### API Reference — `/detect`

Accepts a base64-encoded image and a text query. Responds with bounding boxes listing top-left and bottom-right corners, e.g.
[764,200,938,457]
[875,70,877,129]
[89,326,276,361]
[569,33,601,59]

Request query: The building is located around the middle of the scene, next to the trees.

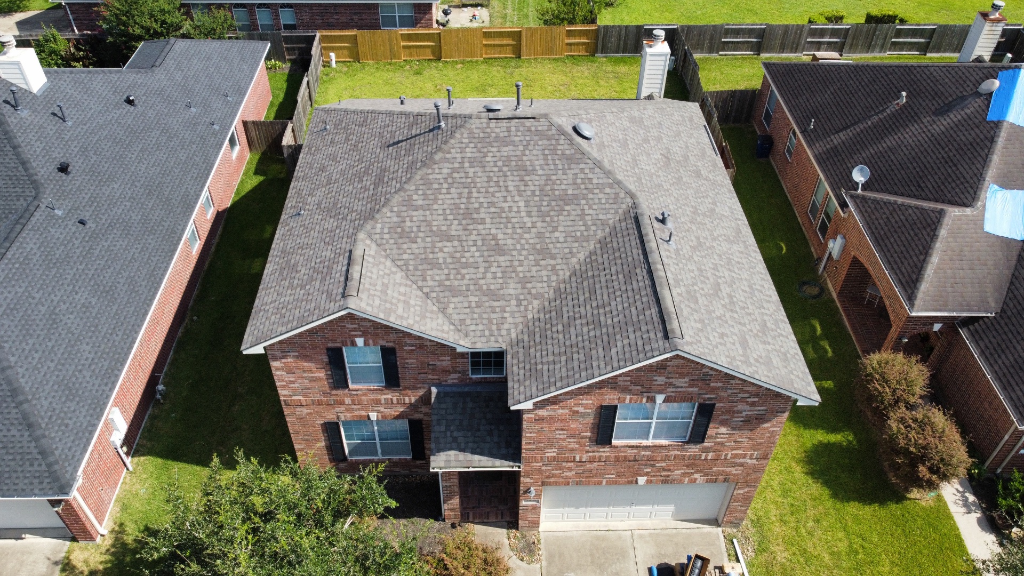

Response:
[242,26,820,532]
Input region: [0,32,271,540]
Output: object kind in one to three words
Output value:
house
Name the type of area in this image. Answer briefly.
residential area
